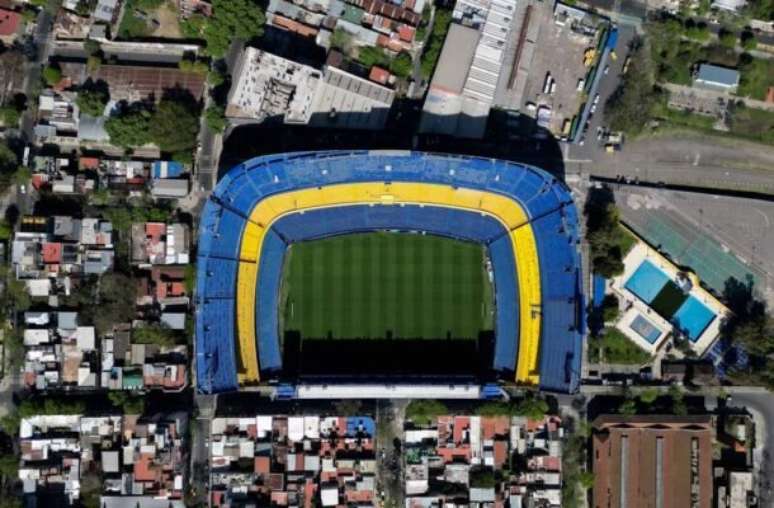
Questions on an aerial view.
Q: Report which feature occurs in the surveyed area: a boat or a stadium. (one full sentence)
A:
There is a stadium in the scene.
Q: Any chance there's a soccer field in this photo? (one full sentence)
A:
Yes, the photo shows a soccer field.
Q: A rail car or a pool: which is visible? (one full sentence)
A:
It is a pool that can be seen here.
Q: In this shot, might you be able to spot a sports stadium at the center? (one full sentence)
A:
Yes, I can see a sports stadium at the center.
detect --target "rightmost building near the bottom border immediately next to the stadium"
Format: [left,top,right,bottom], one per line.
[589,412,711,508]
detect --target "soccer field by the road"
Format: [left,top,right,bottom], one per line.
[276,233,498,382]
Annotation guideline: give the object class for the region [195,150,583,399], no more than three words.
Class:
stadium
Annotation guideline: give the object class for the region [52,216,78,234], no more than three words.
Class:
house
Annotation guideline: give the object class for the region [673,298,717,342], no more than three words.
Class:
swimming pool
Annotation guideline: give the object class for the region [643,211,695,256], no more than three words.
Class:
sports court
